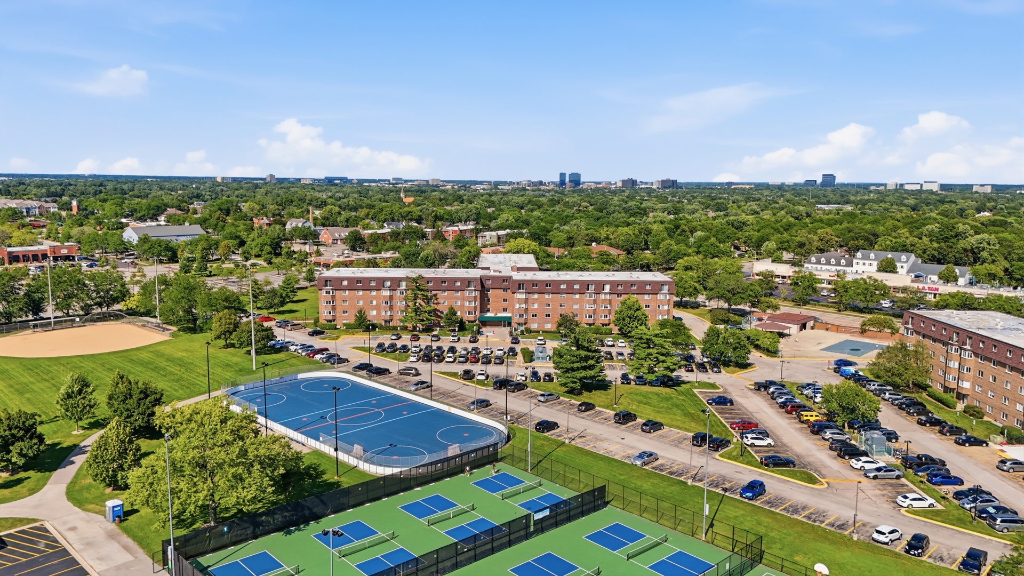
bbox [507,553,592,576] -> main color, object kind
blue sports court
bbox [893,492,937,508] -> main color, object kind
white car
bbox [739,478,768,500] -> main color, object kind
blue car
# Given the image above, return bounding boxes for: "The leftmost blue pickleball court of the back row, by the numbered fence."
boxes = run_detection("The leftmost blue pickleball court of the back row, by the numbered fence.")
[209,550,296,576]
